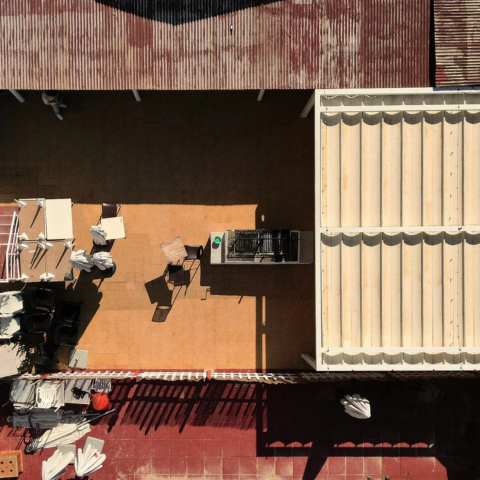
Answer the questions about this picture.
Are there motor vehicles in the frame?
No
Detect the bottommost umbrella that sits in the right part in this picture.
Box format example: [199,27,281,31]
[341,392,370,417]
